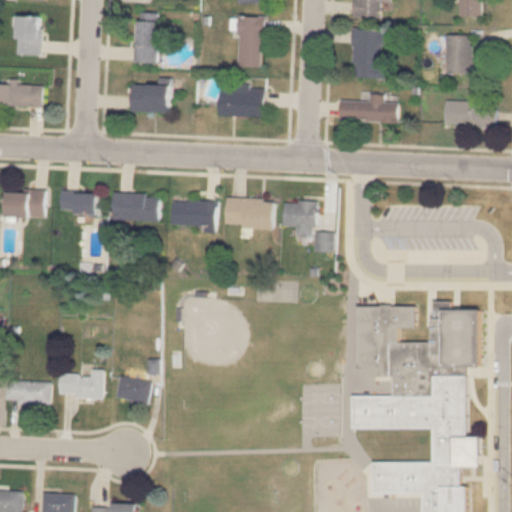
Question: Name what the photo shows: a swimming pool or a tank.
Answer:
swimming pool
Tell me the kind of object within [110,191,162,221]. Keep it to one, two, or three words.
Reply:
house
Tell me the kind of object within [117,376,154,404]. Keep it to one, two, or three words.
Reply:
house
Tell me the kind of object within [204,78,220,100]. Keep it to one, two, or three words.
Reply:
swimming pool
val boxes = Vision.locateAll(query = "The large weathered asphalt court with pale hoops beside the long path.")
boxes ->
[299,384,342,448]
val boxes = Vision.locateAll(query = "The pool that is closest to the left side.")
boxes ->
[3,228,16,253]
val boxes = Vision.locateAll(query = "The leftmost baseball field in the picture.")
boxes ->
[182,296,250,366]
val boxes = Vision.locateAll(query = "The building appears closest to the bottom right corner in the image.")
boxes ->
[352,300,482,512]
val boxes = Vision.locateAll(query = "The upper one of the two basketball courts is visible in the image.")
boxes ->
[257,281,298,303]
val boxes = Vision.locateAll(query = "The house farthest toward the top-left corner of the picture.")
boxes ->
[13,16,44,56]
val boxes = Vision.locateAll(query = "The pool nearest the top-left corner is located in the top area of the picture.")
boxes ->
[166,44,194,66]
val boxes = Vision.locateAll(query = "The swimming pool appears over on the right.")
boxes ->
[428,40,442,54]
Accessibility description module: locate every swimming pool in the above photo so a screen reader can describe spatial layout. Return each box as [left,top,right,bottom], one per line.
[3,228,16,253]
[166,44,194,66]
[428,40,442,54]
[90,233,102,257]
[204,78,220,100]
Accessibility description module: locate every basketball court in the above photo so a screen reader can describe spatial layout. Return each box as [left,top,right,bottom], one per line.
[299,384,342,448]
[257,281,298,303]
